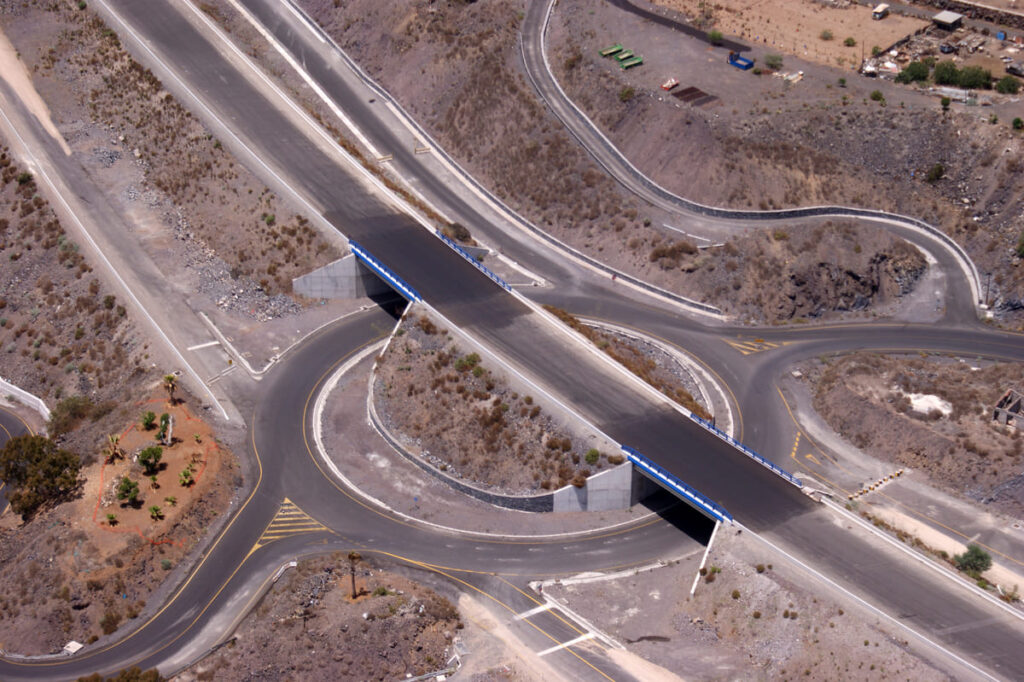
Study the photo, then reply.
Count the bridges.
2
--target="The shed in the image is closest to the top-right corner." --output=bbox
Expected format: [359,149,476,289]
[933,13,965,35]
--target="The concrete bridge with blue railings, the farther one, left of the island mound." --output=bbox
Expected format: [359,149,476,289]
[293,224,519,399]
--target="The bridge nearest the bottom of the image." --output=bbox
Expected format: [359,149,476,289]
[552,408,804,600]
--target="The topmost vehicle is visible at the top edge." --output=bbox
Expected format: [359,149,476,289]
[870,5,888,20]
